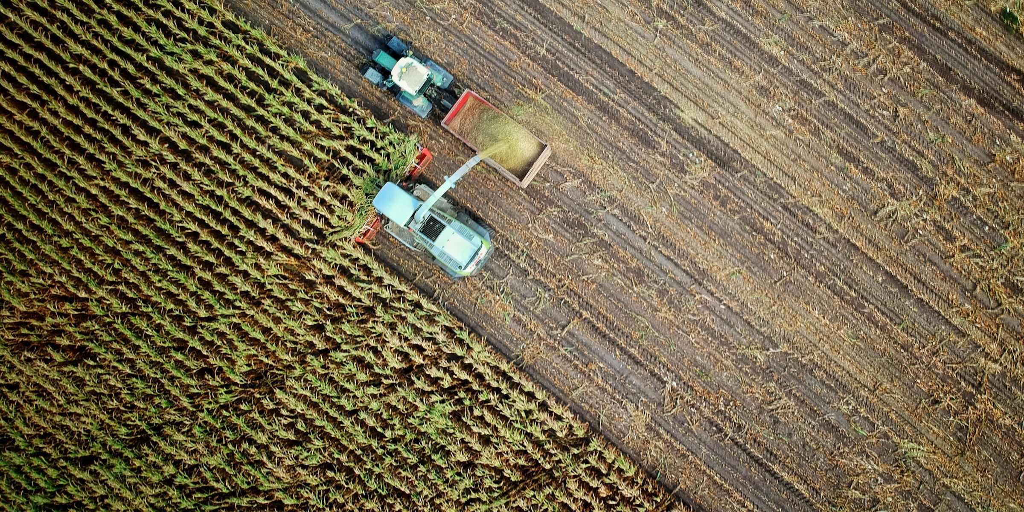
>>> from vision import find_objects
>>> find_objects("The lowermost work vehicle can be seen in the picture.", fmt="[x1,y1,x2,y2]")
[352,146,499,284]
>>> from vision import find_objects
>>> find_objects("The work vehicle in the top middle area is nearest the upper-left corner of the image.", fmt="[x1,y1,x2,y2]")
[366,39,456,123]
